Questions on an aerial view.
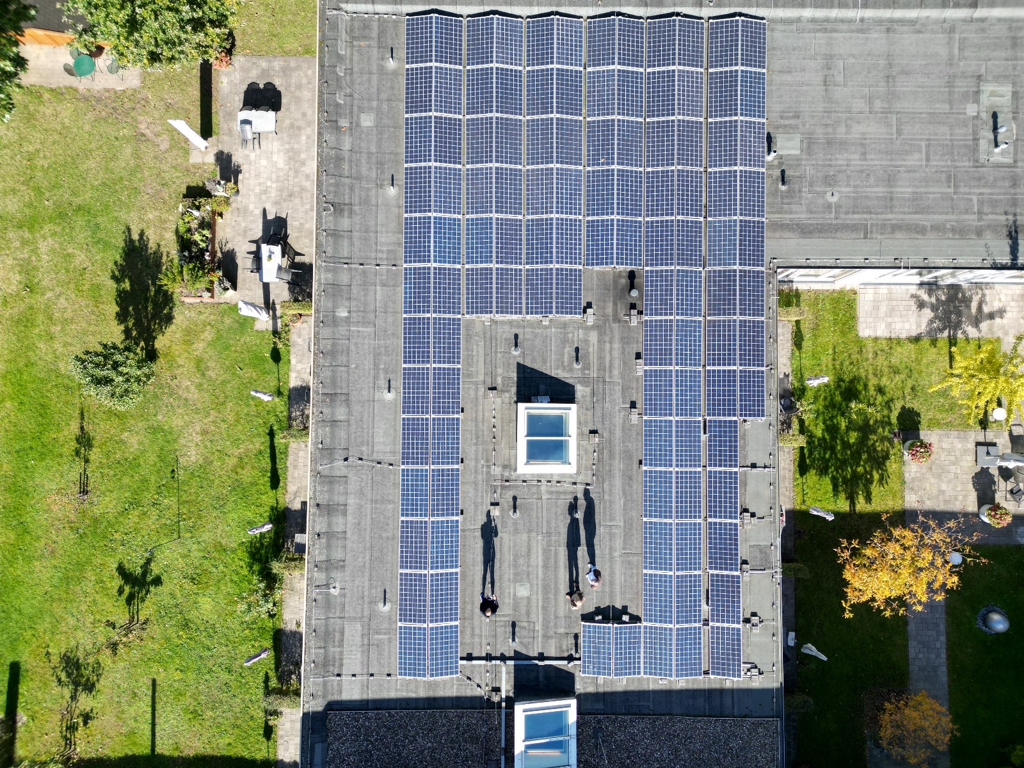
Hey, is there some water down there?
No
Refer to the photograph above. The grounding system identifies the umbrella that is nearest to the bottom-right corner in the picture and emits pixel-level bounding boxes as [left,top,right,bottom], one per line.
[789,633,829,660]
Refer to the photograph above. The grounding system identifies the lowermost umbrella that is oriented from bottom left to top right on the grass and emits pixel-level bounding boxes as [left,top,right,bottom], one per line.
[244,643,277,665]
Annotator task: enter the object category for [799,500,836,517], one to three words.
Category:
umbrella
